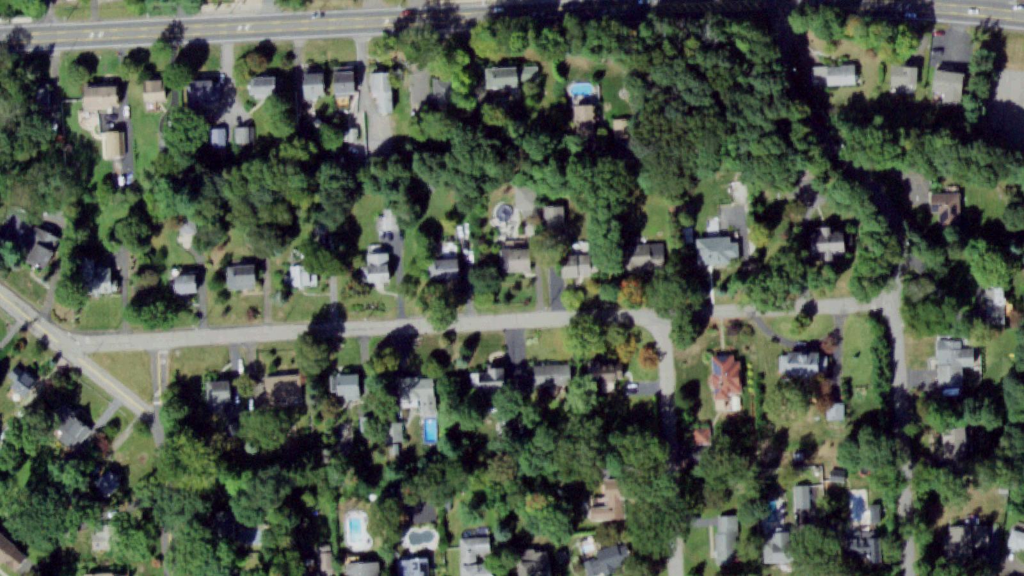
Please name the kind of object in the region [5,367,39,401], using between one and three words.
house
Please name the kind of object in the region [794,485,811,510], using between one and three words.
shed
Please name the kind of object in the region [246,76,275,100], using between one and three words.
house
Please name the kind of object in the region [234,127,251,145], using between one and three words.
building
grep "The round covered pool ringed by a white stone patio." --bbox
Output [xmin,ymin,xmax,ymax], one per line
[495,203,514,222]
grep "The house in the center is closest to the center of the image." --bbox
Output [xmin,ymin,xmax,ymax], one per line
[502,241,531,275]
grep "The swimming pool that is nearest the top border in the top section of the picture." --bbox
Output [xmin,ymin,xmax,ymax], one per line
[570,83,594,96]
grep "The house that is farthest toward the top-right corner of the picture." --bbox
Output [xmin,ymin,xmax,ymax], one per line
[932,71,964,101]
